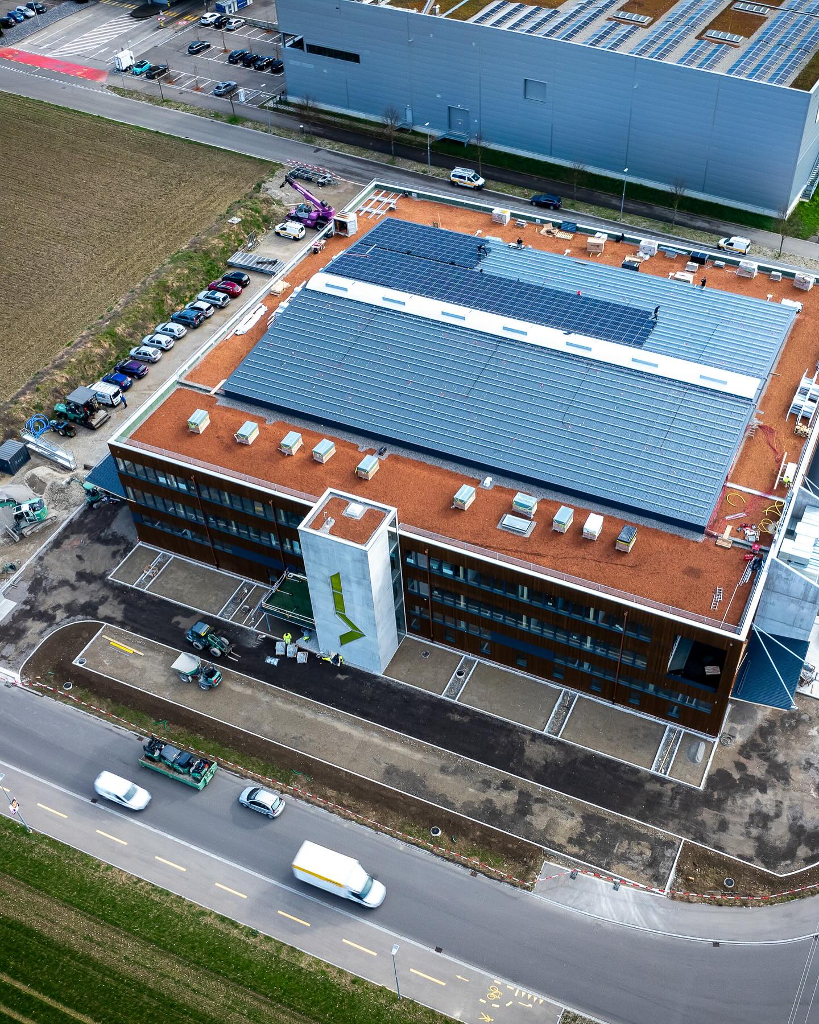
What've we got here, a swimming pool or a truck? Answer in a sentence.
The one in the frame is a truck.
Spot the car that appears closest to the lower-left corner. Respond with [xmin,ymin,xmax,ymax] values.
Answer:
[94,767,153,811]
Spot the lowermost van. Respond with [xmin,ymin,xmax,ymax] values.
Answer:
[291,829,388,903]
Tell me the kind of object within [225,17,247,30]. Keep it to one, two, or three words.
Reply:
vehicle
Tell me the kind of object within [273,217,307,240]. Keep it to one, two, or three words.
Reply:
vehicle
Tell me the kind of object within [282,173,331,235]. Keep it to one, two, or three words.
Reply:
work vehicle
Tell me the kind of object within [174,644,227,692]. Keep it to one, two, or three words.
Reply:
truck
